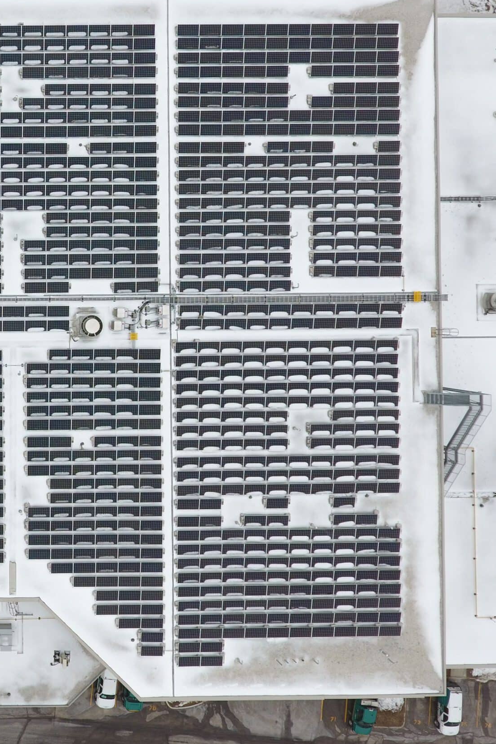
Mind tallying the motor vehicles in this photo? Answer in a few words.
4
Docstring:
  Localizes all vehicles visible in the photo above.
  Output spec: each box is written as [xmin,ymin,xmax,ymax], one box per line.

[349,697,377,735]
[435,673,466,736]
[122,687,144,711]
[97,669,120,709]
